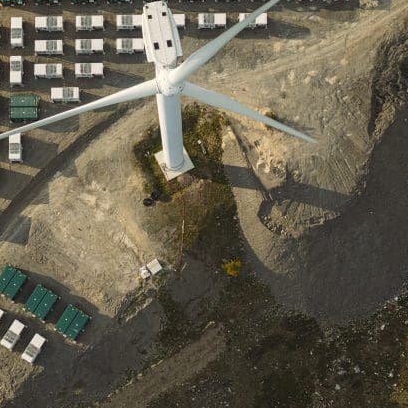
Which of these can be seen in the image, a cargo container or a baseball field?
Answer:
cargo container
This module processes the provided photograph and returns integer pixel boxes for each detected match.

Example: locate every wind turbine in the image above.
[0,0,317,184]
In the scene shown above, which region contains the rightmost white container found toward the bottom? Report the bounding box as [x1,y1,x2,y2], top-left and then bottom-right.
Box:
[22,329,51,363]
